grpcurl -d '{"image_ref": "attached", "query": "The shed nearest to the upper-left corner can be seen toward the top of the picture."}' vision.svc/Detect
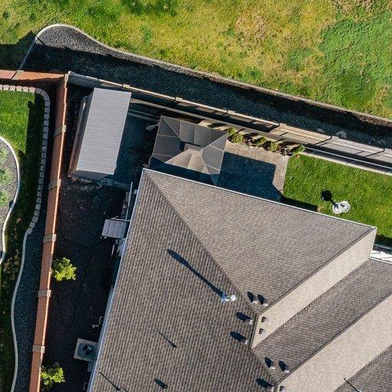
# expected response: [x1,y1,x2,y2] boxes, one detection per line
[63,88,131,176]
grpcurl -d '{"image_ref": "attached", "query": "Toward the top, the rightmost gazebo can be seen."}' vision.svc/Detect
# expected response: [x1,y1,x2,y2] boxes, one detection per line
[136,114,229,186]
